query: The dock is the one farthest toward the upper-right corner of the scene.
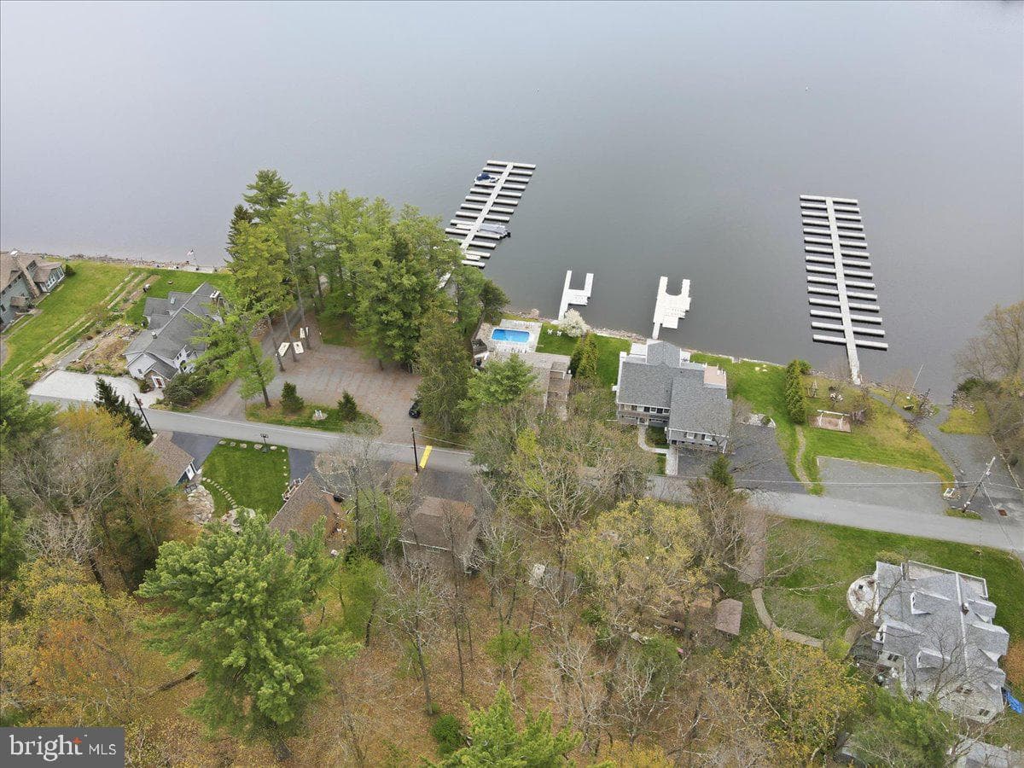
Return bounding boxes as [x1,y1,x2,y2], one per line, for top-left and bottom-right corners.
[799,195,889,379]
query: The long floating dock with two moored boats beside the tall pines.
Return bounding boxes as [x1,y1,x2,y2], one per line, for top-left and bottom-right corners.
[440,158,537,285]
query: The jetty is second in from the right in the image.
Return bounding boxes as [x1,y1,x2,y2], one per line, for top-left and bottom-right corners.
[653,276,691,341]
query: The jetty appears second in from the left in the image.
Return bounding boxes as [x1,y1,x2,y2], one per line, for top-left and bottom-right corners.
[558,271,594,321]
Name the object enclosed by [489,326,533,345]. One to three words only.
swimming pool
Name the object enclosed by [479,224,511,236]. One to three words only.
boat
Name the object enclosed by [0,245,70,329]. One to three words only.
house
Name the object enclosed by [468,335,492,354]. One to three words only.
gazebo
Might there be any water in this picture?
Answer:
Yes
